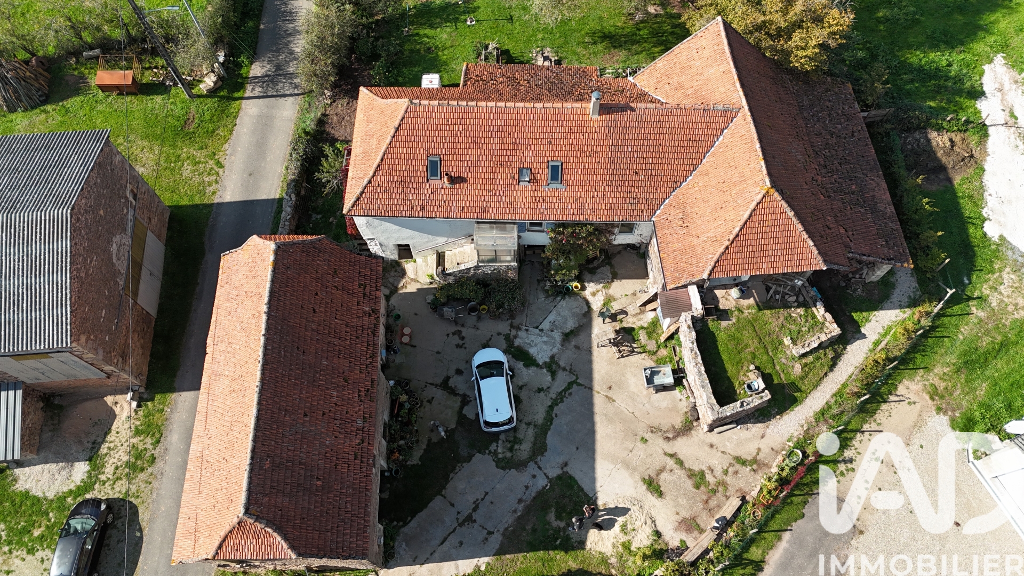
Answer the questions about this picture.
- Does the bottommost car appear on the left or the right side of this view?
left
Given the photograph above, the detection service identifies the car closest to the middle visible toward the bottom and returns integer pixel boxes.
[471,352,518,434]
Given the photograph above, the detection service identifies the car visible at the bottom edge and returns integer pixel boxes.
[51,498,117,576]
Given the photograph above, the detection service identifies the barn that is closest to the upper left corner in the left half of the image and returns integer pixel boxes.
[0,125,170,392]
